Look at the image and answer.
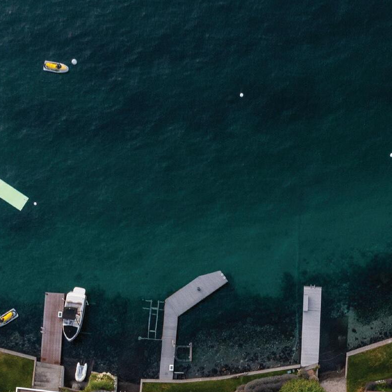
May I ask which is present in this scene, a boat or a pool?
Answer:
boat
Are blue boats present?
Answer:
No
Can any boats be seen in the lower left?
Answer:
Yes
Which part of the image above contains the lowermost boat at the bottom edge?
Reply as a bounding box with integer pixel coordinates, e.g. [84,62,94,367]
[75,361,88,383]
